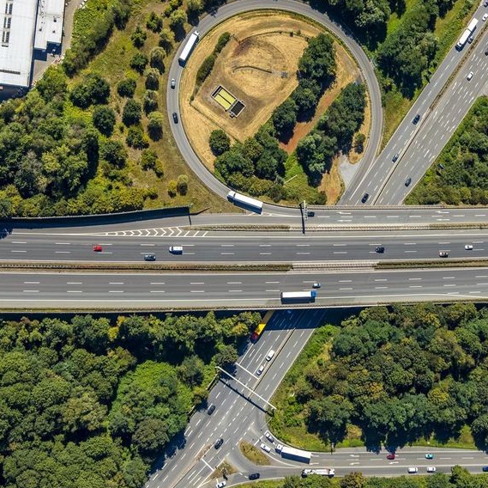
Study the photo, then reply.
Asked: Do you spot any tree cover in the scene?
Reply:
Yes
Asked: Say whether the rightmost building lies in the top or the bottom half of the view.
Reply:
top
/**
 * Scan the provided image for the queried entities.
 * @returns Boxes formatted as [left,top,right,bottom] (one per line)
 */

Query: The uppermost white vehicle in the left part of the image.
[177,31,199,65]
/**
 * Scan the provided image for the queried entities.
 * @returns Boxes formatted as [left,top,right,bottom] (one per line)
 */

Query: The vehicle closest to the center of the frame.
[225,191,261,213]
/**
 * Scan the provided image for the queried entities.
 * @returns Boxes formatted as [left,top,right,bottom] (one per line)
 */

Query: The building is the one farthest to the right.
[33,0,64,51]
